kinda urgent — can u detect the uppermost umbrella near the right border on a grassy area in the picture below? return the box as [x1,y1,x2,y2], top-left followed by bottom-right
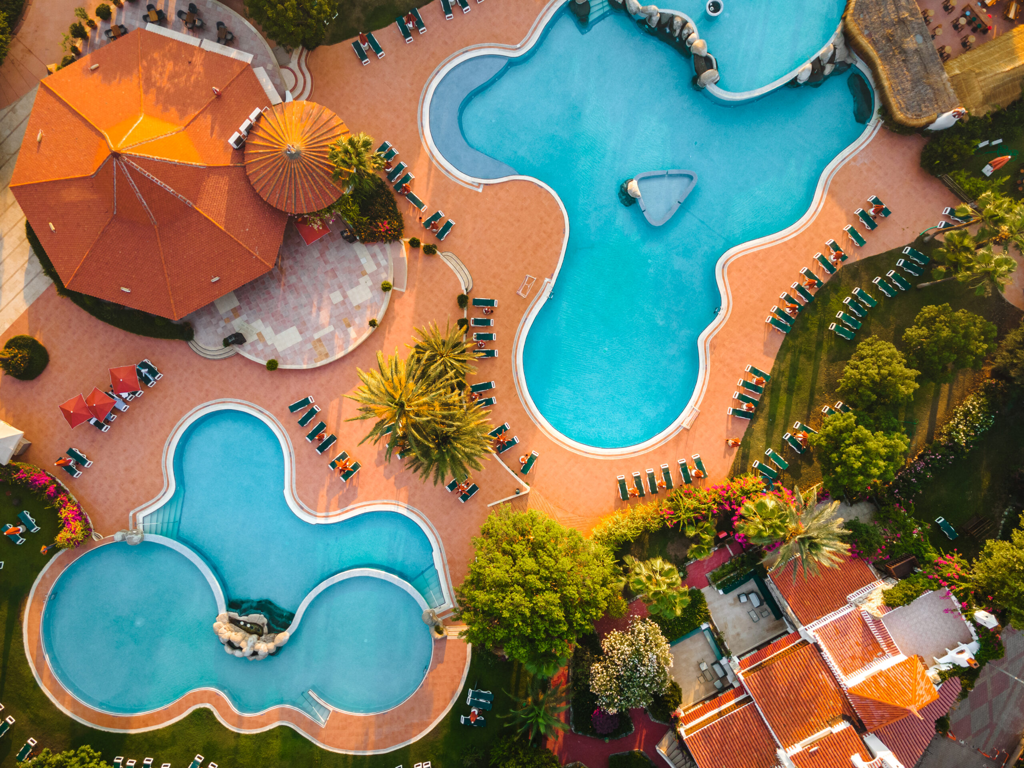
[985,158,1012,174]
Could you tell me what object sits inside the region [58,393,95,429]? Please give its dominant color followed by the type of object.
red umbrella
